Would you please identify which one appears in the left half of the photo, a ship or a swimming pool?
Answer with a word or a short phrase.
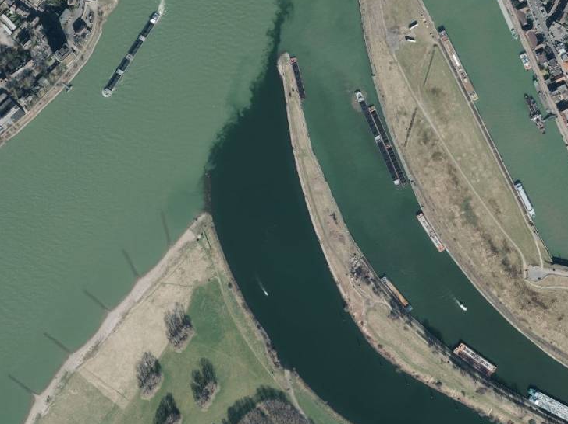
ship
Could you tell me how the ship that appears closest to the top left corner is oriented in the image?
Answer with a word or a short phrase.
at an angle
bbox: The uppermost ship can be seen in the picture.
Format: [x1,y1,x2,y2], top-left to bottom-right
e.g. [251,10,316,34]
[497,0,517,39]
